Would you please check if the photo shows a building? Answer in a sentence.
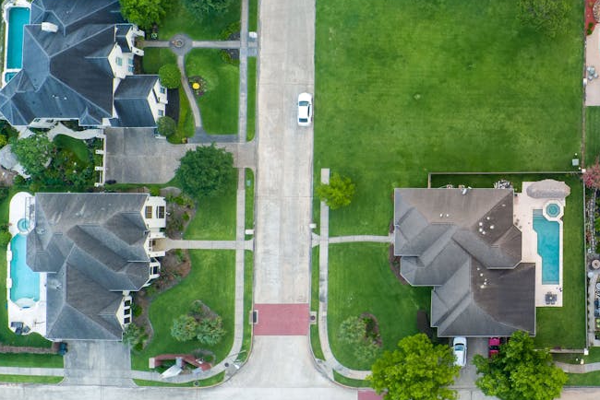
Yes, the image includes a building.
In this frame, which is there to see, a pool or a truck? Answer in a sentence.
There is a pool in the scene.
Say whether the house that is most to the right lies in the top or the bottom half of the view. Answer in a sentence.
You can find the house that is most to the right in the bottom half.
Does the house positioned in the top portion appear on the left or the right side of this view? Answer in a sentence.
The house positioned in the top portion sits on the left side.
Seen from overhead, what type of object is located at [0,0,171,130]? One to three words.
house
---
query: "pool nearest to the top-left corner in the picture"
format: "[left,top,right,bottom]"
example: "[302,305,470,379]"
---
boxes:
[5,7,32,69]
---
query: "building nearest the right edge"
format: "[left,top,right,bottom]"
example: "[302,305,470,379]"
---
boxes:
[393,188,537,338]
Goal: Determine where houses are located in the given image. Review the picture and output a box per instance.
[0,0,171,130]
[393,188,537,338]
[27,193,174,341]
